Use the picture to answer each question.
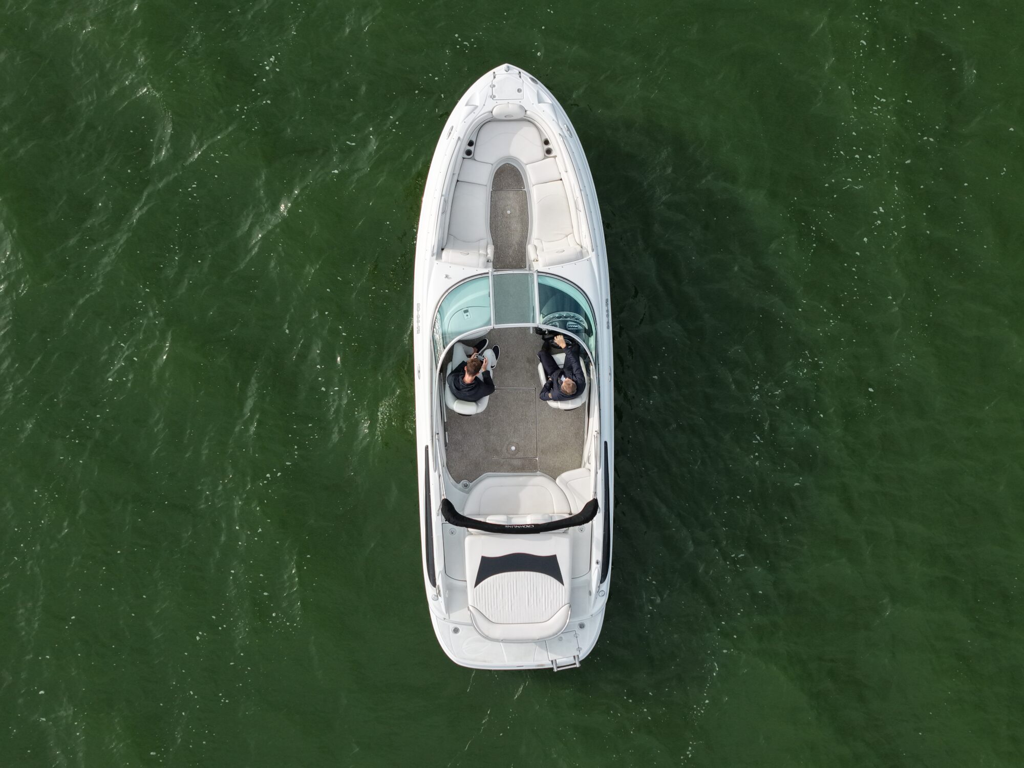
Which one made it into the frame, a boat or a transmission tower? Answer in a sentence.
The image shows a boat.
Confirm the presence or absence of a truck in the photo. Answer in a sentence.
No, the frame has no truck in it.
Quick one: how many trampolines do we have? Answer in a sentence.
The picture shows no trampolines.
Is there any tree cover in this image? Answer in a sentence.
No, the picture contains no tree cover.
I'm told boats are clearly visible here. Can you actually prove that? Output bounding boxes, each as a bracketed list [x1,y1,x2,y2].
[412,63,616,672]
